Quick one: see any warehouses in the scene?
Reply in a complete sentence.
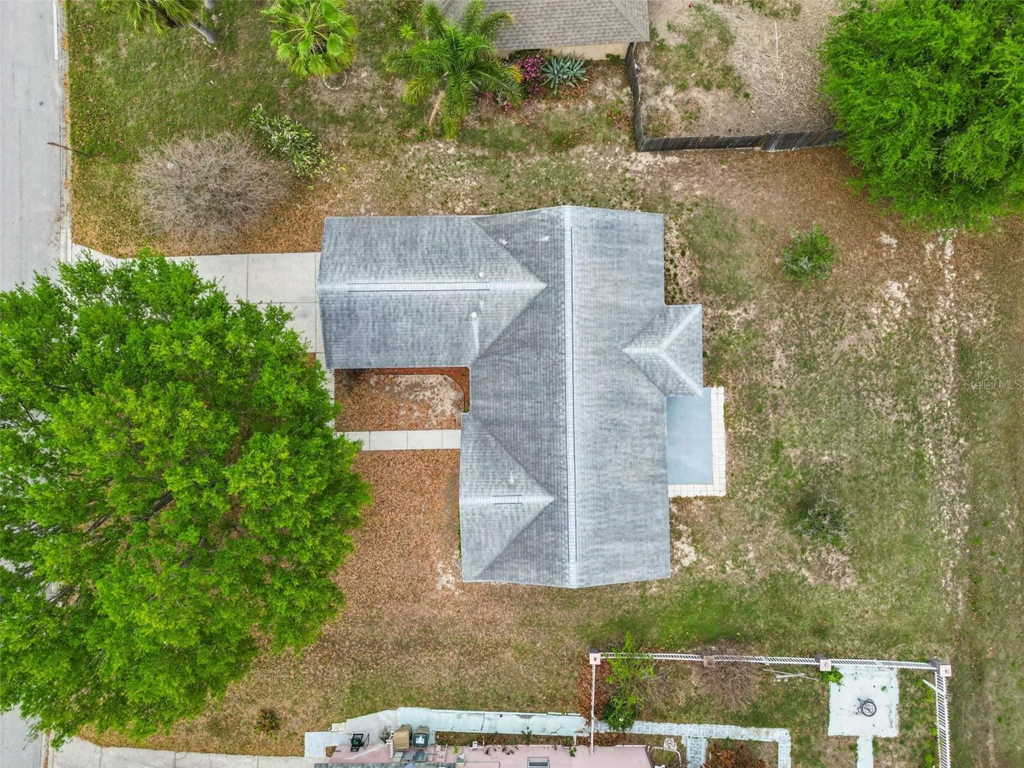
No, no warehouse is visible in the scene.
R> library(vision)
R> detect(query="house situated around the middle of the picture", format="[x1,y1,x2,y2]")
[316,204,705,590]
